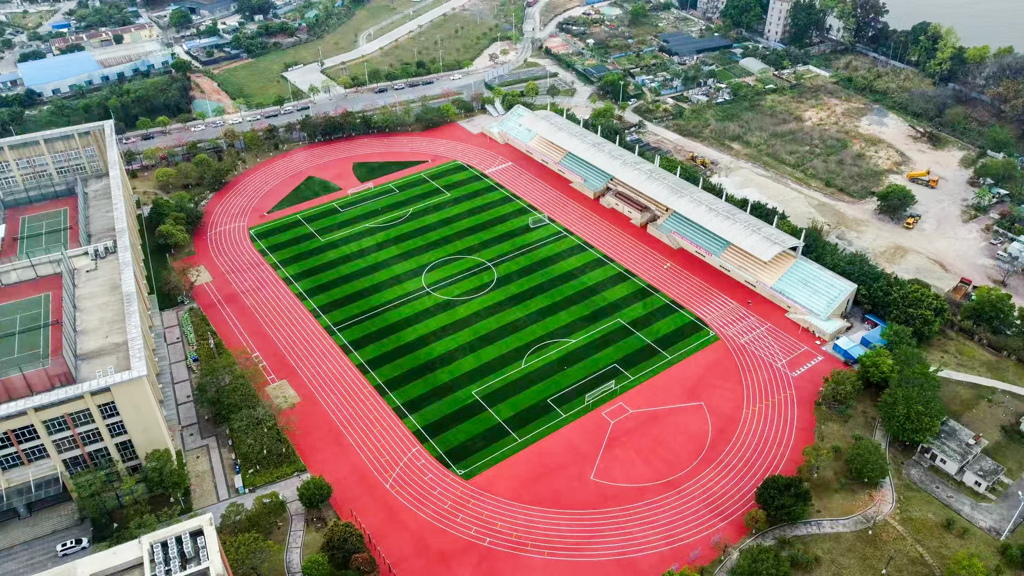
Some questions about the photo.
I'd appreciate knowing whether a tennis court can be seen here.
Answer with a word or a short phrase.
Yes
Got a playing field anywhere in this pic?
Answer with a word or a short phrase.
Yes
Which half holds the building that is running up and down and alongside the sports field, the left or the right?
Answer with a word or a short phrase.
left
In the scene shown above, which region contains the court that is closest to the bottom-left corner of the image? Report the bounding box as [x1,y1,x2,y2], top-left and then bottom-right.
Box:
[0,294,52,380]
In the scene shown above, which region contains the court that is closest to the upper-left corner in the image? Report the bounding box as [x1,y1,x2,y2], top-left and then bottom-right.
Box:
[7,208,67,258]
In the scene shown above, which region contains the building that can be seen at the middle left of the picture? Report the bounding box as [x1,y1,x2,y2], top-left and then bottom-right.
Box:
[0,122,184,542]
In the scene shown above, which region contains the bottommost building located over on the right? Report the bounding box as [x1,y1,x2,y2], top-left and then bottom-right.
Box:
[959,453,1003,494]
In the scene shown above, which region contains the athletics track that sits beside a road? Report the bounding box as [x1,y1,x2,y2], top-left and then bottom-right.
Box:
[172,123,848,576]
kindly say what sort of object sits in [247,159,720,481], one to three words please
sports field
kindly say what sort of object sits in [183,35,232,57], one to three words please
shed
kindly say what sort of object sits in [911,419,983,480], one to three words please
house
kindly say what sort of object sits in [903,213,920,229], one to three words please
work vehicle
